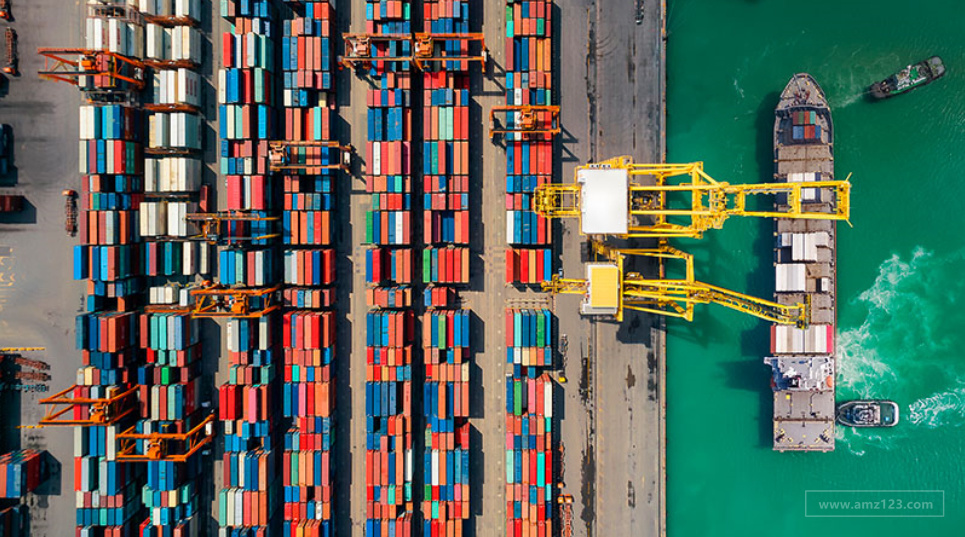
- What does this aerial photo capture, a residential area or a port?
port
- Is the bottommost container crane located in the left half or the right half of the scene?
left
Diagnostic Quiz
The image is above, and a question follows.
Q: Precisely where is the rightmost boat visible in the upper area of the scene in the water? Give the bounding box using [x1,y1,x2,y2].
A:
[867,52,948,102]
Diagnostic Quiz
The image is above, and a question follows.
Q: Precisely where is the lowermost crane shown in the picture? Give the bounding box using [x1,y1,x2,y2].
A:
[116,411,212,464]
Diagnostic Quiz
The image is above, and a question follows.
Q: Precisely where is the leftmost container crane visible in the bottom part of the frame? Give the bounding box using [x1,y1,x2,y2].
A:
[38,380,142,429]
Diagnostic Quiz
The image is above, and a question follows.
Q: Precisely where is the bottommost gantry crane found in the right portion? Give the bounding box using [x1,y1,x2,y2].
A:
[535,237,822,345]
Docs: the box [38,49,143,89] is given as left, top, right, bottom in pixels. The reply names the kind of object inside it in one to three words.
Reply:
container crane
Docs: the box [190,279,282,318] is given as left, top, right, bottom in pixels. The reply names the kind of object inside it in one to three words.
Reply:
container crane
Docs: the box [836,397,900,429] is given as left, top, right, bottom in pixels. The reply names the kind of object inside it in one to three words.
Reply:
boat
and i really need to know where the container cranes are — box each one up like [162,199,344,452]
[535,237,822,345]
[535,153,860,240]
[38,49,143,89]
[186,209,279,244]
[489,105,560,142]
[38,380,142,429]
[342,33,420,75]
[413,33,487,75]
[190,279,282,318]
[263,138,353,175]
